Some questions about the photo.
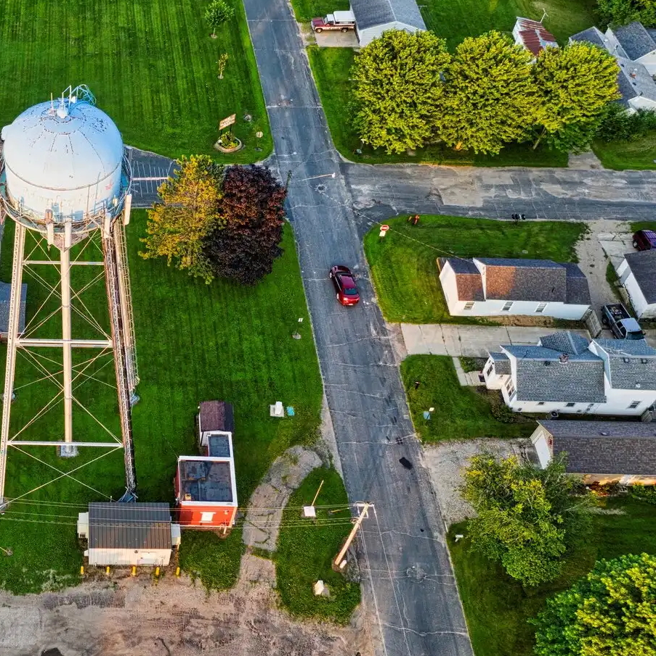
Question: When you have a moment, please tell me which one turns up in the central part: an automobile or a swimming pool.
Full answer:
You can see an automobile in the central part.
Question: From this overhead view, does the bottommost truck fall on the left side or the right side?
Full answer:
The bottommost truck is on the right side of the image.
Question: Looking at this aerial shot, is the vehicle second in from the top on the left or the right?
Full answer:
The vehicle second in from the top is on the right side of the image.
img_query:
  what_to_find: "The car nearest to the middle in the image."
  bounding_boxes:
[328,267,360,304]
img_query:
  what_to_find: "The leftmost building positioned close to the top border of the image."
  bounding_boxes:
[347,0,427,47]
